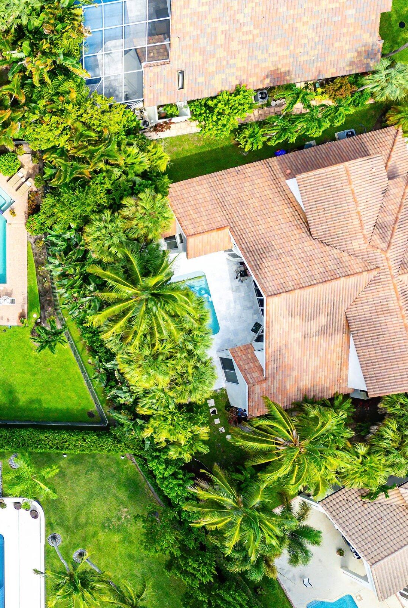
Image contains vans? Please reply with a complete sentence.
No, no van can be seen from above.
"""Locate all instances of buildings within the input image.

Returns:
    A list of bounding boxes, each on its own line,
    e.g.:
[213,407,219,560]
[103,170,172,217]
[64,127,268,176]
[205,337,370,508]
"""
[302,466,408,601]
[159,128,408,416]
[131,0,394,108]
